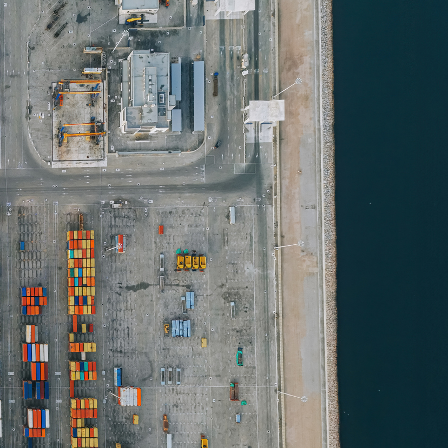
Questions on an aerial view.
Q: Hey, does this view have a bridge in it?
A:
No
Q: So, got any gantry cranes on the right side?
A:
No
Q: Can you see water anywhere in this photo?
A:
Yes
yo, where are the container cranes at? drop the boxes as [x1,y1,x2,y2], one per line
[61,119,107,146]
[56,78,103,104]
